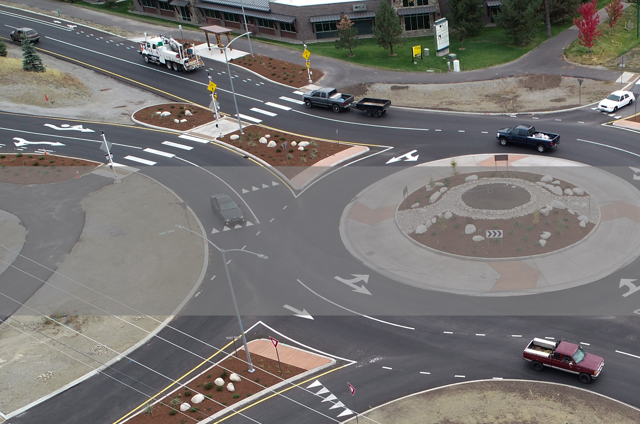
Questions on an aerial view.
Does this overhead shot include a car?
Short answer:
Yes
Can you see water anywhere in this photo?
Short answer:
No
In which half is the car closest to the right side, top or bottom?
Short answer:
top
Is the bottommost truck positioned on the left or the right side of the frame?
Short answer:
right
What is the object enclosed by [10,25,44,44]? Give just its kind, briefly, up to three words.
car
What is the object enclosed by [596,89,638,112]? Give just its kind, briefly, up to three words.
car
